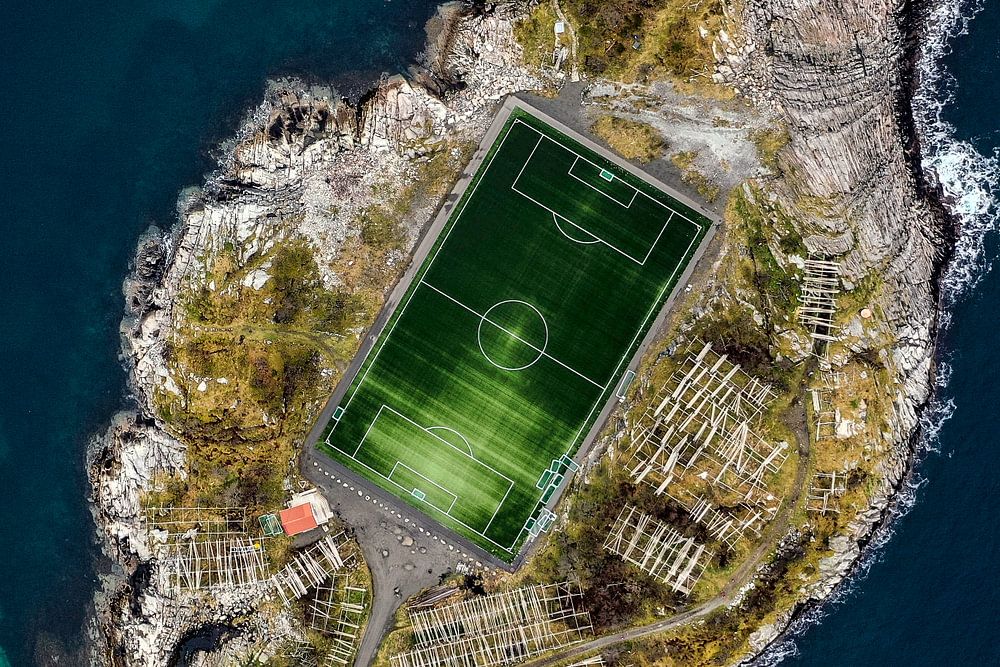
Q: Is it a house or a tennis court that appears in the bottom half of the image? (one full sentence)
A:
It is a house that can be seen in the bottom half of the image.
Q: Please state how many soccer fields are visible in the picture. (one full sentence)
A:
The picture shows just 1 soccer field.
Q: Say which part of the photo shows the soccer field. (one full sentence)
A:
The soccer field is located in the center region of the scene.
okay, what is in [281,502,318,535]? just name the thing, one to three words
house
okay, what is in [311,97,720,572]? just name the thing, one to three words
soccer field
